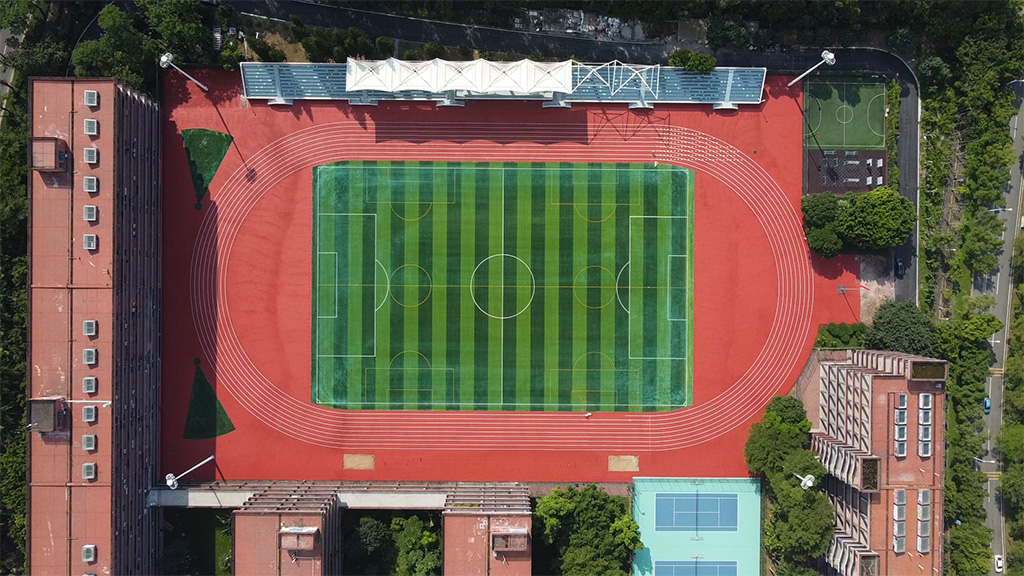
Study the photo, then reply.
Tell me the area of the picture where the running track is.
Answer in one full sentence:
The running track is in the center part of the image.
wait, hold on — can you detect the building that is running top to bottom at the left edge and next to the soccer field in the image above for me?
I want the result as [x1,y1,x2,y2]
[26,77,166,576]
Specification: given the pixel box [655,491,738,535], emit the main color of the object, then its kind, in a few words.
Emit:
blue tennis court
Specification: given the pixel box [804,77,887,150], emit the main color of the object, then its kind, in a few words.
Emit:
green sports court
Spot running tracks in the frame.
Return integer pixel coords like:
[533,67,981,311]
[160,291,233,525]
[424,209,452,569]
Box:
[190,122,815,451]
